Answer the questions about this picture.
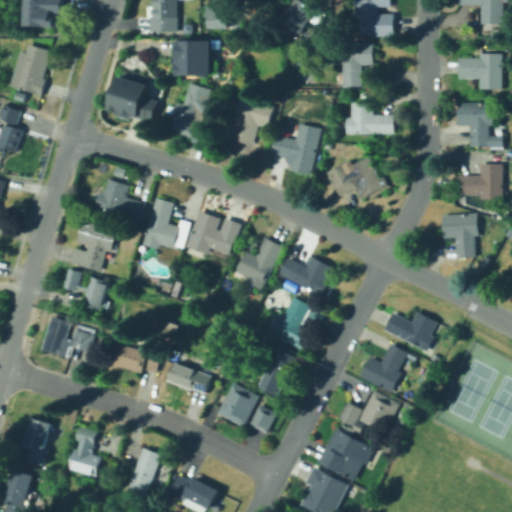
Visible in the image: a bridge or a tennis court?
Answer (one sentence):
Visible in the photo is a tennis court.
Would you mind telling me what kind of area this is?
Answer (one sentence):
What you see here is a residential area.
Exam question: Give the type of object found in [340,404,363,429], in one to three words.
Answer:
building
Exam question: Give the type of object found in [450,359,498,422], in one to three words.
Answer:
tennis court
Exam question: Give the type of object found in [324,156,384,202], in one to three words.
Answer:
house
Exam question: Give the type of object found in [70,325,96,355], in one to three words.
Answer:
building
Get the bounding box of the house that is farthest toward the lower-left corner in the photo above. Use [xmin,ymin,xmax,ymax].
[2,472,32,512]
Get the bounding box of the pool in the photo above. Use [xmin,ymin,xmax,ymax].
[142,258,170,278]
